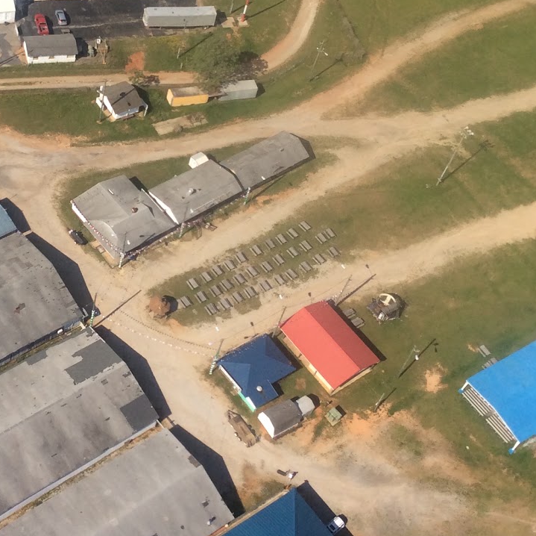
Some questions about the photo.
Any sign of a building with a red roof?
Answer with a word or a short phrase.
Yes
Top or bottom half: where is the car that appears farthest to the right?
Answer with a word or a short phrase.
bottom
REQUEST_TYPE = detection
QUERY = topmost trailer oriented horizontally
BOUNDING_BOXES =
[143,11,217,39]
